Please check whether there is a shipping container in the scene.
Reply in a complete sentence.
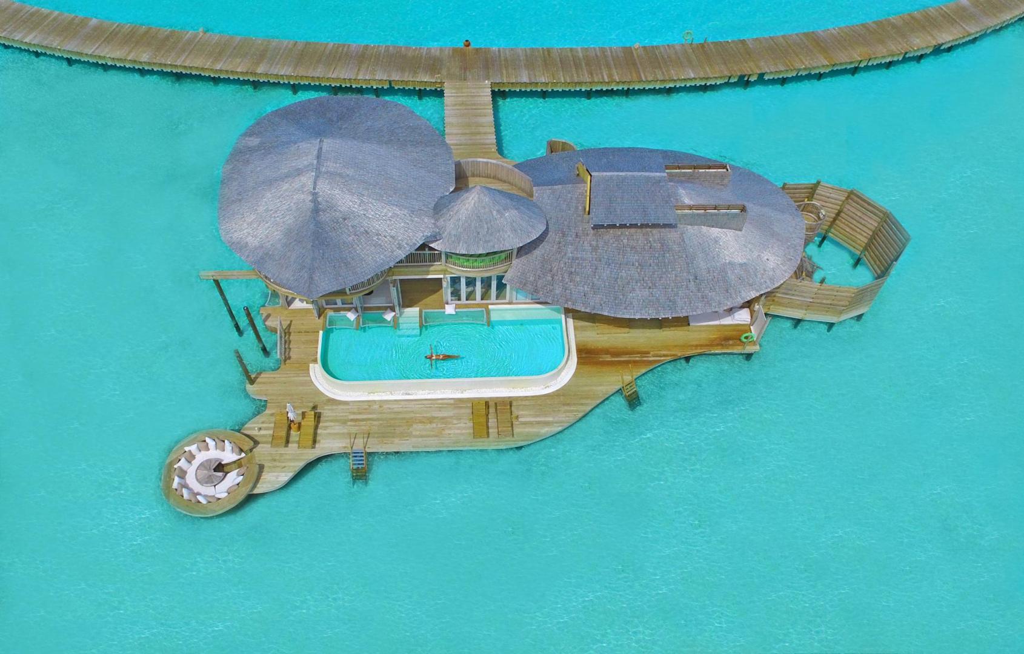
No, the frame has no shipping container in it.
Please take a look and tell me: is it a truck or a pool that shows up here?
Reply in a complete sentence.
There is a pool in the scene.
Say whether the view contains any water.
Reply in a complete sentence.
Yes, the picture does contain water.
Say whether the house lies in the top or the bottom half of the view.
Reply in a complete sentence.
The top half of the photo is where the house is.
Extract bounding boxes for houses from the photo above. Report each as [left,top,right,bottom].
[218,94,806,320]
